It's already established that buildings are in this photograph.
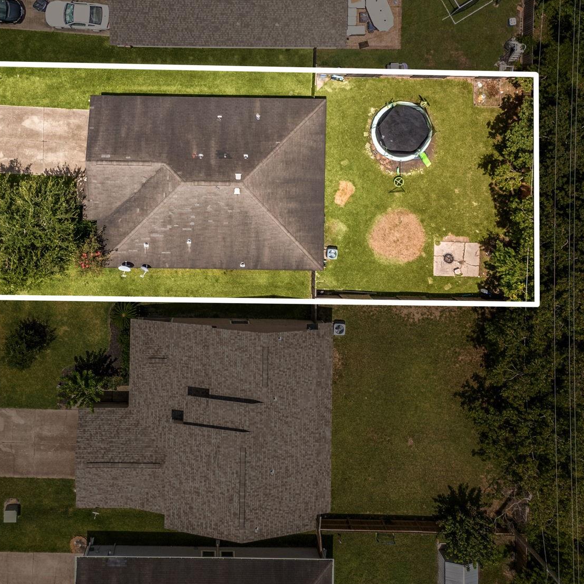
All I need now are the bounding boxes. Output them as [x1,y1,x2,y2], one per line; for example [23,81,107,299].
[105,0,346,49]
[444,549,482,584]
[69,314,334,543]
[87,96,328,278]
[72,538,336,584]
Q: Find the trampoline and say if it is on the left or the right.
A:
right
